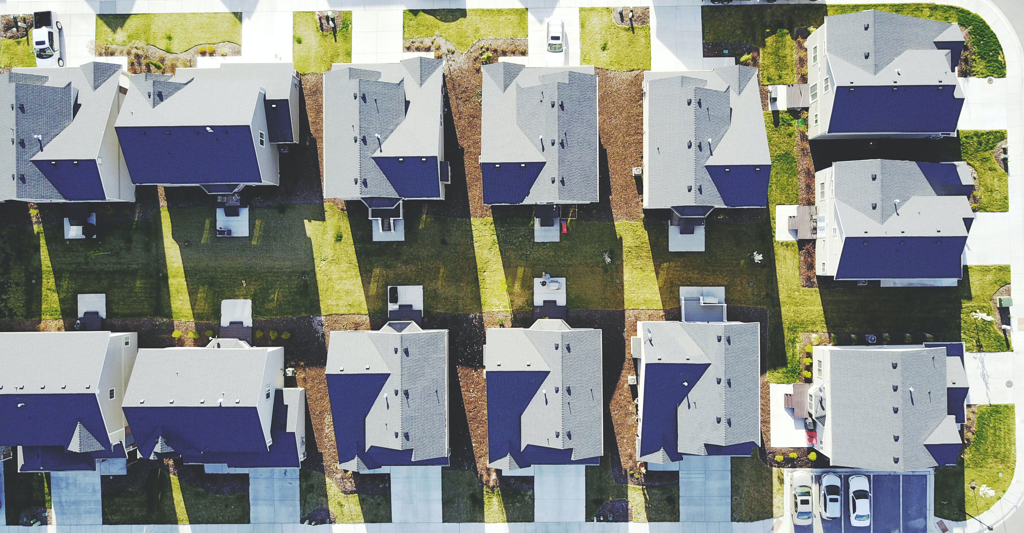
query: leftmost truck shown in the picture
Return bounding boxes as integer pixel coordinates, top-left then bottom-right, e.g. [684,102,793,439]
[36,9,67,66]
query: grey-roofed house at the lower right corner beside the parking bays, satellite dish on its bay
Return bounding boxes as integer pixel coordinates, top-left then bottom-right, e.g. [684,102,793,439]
[807,341,969,474]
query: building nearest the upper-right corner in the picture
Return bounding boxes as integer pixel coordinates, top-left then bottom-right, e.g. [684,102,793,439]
[806,10,965,140]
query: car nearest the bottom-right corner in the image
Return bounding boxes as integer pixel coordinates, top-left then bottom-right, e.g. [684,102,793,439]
[845,473,871,526]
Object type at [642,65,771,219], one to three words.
house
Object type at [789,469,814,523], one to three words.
car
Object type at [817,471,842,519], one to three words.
car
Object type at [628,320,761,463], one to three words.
house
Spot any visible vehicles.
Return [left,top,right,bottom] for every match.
[817,471,842,519]
[759,0,819,5]
[544,18,568,65]
[789,469,814,523]
[845,473,871,526]
[36,9,67,66]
